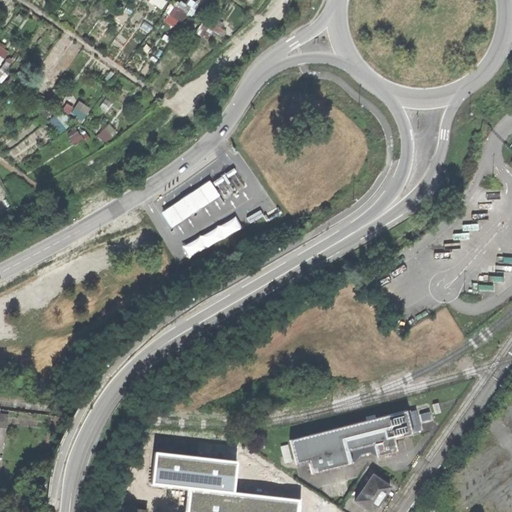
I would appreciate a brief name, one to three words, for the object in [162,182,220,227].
building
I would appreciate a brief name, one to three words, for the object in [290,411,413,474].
building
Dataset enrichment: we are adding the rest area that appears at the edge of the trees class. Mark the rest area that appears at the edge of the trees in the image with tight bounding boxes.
[147,146,277,262]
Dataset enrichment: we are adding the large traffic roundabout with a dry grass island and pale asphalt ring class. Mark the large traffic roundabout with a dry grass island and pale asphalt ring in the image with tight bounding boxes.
[328,0,512,108]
